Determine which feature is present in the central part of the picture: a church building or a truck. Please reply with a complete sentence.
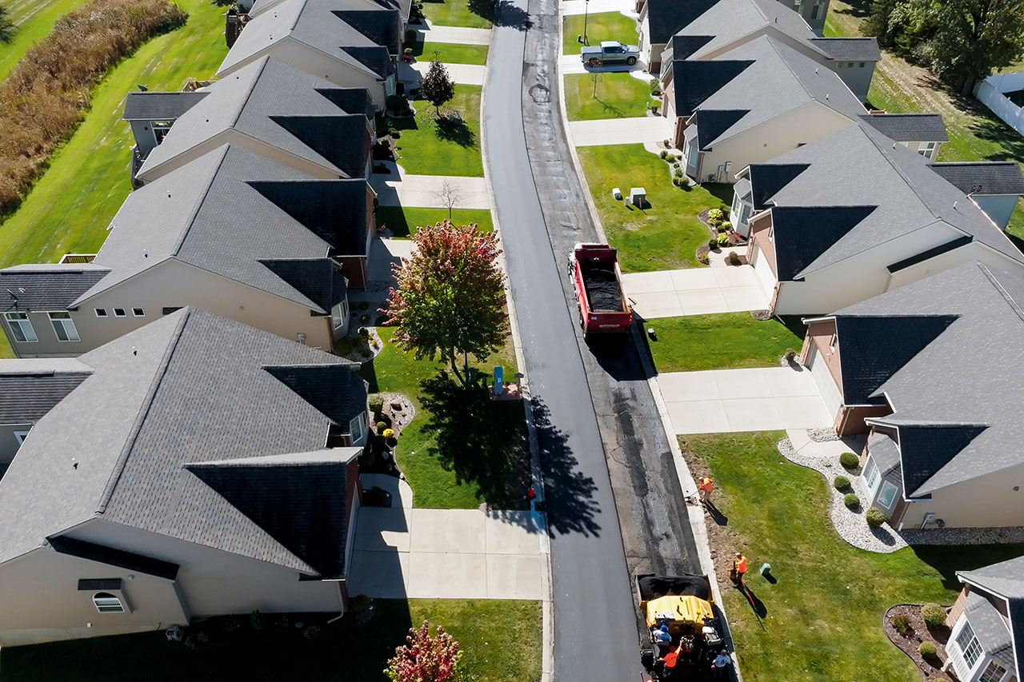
The feature located in the central part of the picture is a truck.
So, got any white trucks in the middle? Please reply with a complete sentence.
No, in the middle there is no white truck.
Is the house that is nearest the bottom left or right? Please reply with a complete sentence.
The house that is nearest the bottom is on the right side of the image.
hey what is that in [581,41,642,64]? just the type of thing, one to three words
truck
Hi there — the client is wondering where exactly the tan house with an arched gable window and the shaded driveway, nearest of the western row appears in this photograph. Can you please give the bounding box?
[0,306,375,654]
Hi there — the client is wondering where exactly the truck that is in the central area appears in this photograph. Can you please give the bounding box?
[566,237,637,344]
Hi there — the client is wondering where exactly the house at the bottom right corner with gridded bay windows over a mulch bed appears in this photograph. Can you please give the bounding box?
[936,555,1024,682]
